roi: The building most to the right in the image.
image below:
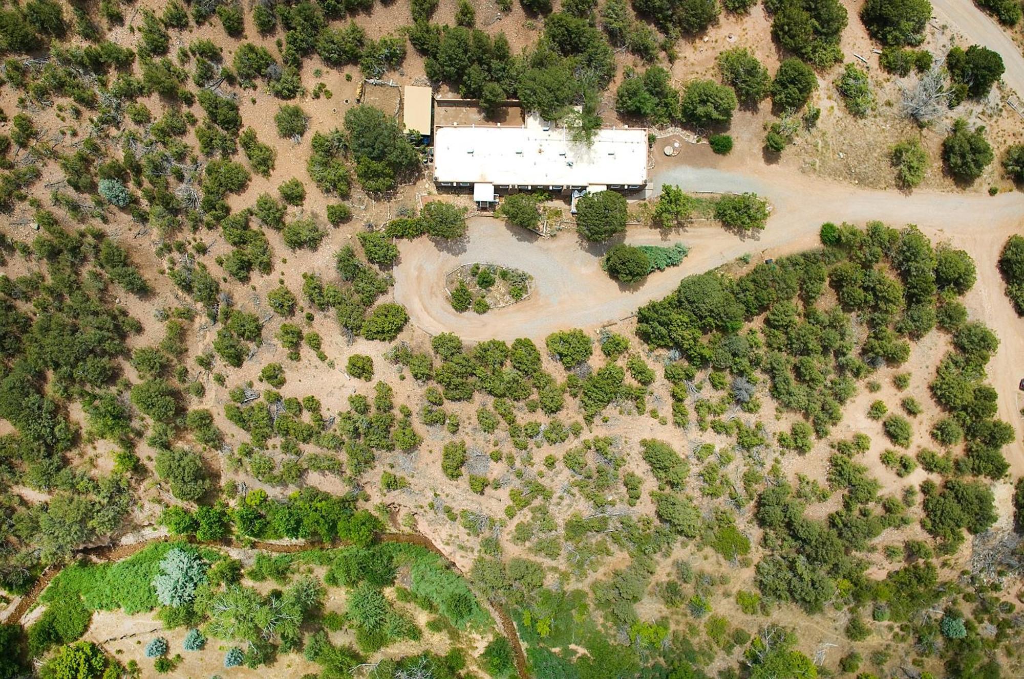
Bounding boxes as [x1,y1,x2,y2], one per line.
[434,122,648,211]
